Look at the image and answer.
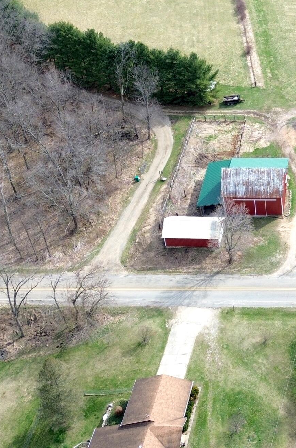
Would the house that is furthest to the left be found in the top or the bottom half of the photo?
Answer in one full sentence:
The house that is furthest to the left is in the bottom half of the image.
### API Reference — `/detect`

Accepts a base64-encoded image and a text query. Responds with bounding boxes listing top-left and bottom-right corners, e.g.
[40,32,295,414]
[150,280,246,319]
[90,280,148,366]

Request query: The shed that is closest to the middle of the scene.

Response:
[162,211,227,247]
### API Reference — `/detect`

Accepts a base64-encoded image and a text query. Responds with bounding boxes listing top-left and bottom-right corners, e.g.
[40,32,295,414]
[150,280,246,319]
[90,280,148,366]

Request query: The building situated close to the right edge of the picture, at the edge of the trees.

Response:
[197,158,289,215]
